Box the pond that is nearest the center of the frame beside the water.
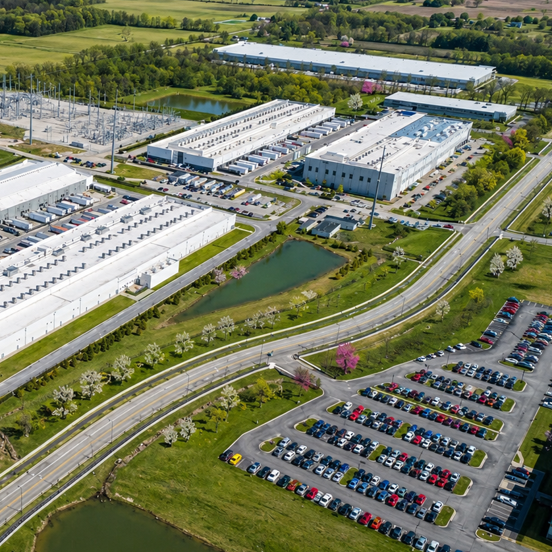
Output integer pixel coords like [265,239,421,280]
[181,239,344,318]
